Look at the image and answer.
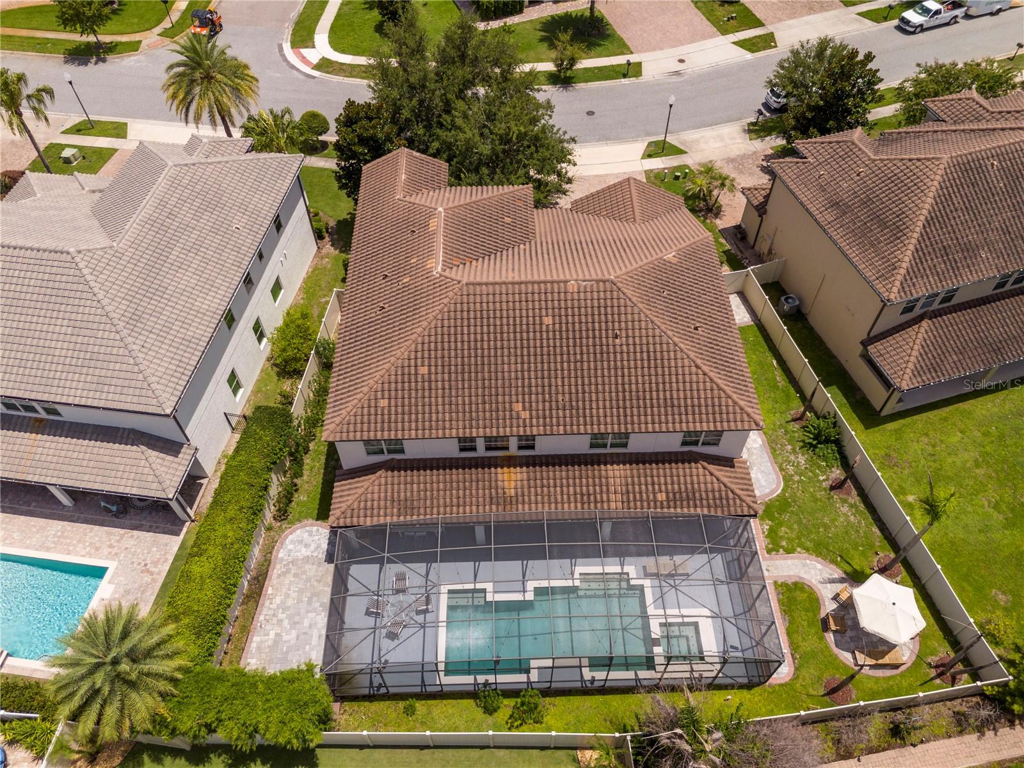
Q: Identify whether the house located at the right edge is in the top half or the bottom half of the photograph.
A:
top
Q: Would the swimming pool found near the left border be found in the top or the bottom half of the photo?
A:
bottom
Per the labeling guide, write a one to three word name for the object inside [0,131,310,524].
house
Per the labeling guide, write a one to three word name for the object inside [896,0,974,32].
truck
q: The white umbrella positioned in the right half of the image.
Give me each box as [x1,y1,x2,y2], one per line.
[851,574,928,646]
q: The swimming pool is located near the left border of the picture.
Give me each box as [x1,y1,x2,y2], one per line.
[0,544,119,673]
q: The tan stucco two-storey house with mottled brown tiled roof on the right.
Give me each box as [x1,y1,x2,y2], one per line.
[732,85,1024,419]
